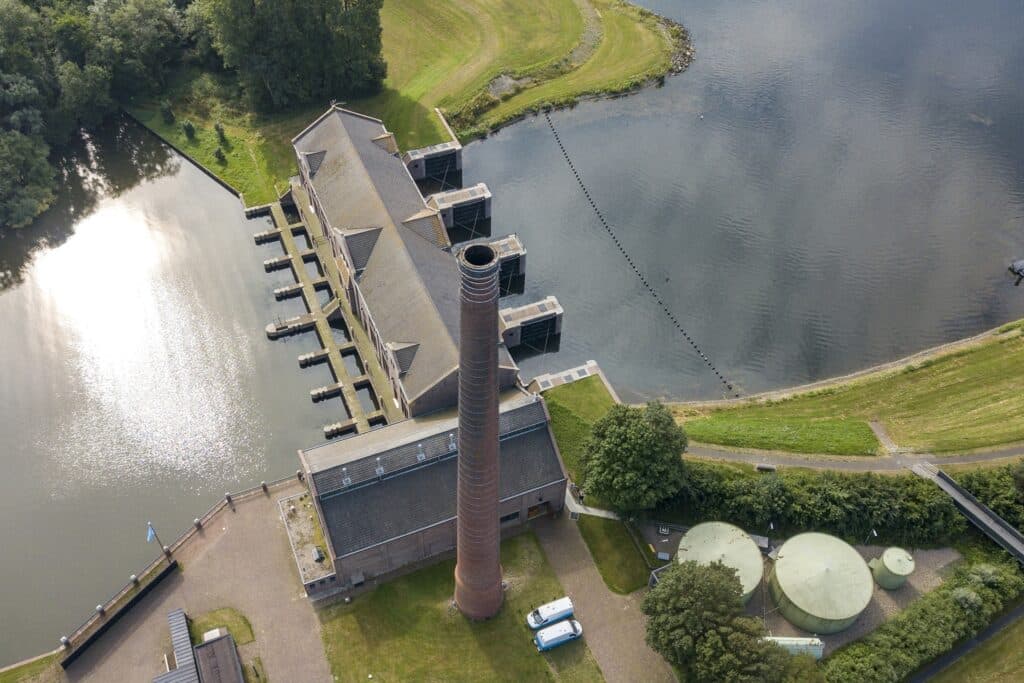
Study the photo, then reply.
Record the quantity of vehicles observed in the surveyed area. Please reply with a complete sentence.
In total, 2 vehicles can be seen.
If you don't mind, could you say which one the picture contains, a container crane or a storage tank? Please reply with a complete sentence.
Visible in the photo is a storage tank.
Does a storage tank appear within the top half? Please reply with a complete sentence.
No, there's no storage tank to be seen within the top half.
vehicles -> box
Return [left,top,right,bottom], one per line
[536,617,583,648]
[527,594,574,627]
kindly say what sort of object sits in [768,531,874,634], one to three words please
storage tank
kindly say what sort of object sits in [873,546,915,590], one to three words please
storage tank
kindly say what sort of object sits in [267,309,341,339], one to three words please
pier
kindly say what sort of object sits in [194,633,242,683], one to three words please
shed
